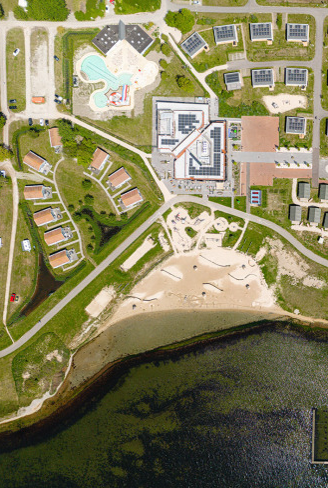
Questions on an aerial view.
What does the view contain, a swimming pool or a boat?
swimming pool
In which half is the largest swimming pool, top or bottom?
top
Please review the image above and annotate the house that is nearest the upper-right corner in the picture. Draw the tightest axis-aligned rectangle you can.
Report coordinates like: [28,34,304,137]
[287,23,309,48]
